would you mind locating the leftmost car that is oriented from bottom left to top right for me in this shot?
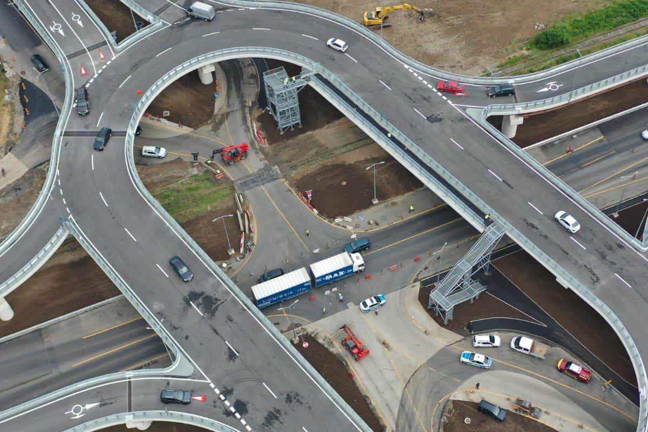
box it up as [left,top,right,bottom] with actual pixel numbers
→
[92,125,113,150]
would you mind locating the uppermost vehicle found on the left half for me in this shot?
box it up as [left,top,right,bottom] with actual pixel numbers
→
[188,2,215,21]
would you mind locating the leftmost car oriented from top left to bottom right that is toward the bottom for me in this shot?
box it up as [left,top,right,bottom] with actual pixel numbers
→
[167,254,196,282]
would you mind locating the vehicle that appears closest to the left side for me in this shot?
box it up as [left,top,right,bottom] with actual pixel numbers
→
[29,53,50,72]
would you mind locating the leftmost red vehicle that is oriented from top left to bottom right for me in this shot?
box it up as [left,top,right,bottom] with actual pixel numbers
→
[336,322,370,361]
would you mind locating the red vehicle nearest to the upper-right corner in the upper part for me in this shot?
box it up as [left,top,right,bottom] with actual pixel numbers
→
[436,79,465,95]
